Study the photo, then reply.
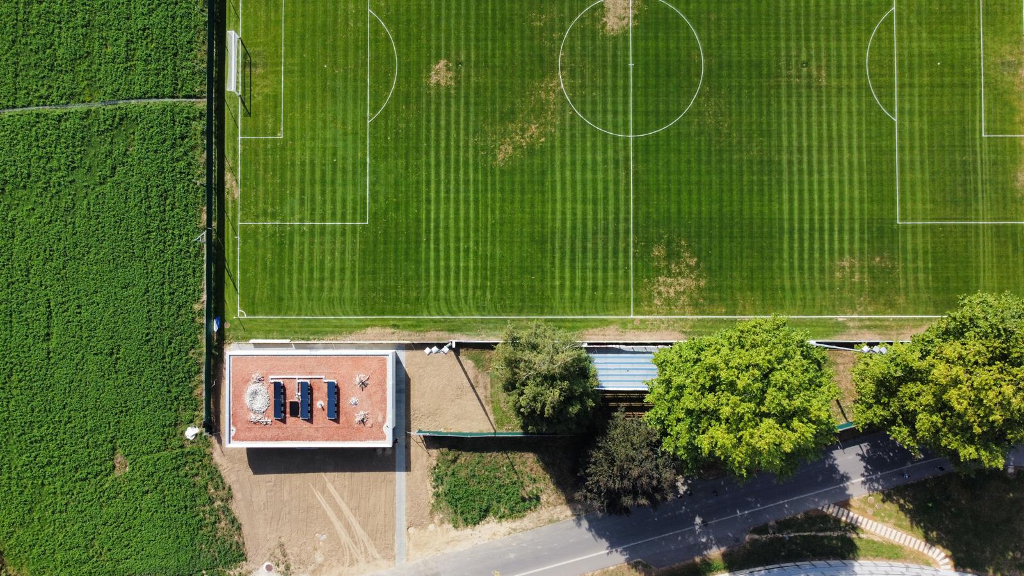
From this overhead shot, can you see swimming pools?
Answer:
No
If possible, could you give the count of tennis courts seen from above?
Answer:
0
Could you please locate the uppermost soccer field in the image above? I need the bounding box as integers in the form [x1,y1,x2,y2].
[234,0,1024,317]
